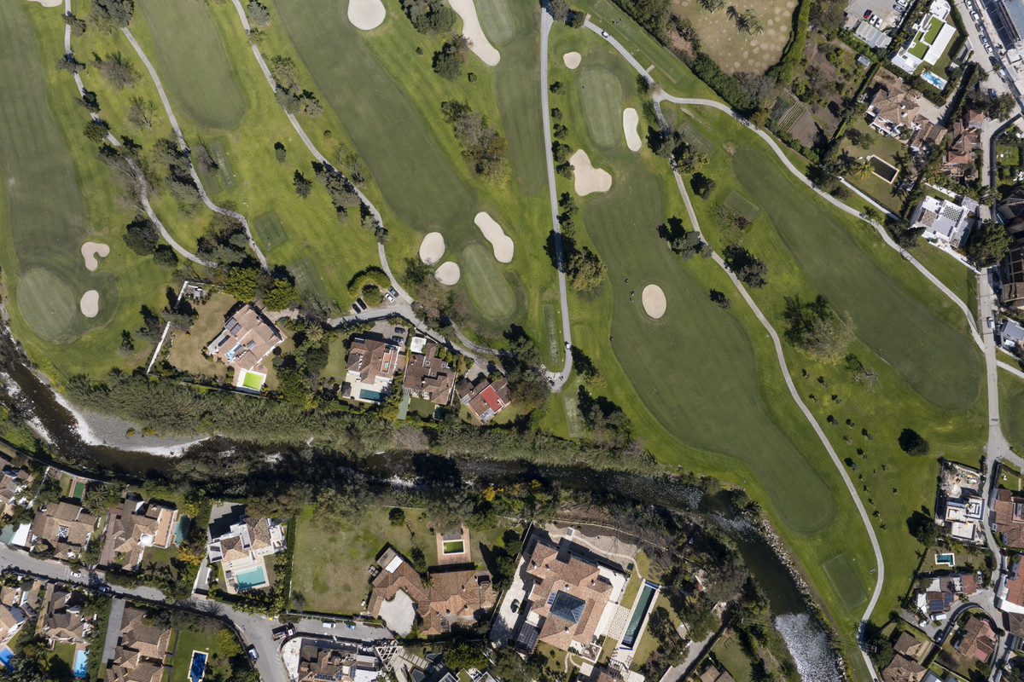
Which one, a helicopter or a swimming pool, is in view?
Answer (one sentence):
There is a swimming pool in the scene.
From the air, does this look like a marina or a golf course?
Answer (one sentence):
This looks like a golf course.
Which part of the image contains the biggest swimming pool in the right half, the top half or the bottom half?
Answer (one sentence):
The biggest swimming pool in the right half is in the bottom half of the image.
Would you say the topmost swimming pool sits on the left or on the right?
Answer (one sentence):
You can find the topmost swimming pool on the right side of the picture.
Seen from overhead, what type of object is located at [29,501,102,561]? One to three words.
house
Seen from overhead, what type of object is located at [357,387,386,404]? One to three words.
swimming pool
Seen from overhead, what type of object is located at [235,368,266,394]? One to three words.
swimming pool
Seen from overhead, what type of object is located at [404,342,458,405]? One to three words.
house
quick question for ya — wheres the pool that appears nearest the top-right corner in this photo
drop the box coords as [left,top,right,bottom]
[921,68,948,89]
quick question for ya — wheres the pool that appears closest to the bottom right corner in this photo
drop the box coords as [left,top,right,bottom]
[935,553,956,567]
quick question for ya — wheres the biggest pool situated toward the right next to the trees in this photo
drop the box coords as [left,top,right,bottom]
[616,579,660,653]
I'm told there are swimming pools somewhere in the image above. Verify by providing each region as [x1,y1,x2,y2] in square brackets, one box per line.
[442,540,465,555]
[935,553,956,567]
[0,646,14,672]
[69,478,88,501]
[616,579,660,653]
[235,368,266,394]
[867,154,900,184]
[173,514,192,546]
[187,651,209,682]
[234,565,266,592]
[433,405,443,419]
[72,650,90,678]
[357,387,386,404]
[921,68,948,89]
